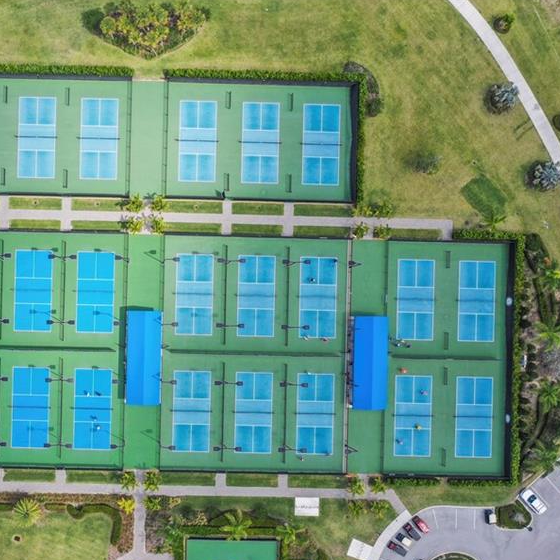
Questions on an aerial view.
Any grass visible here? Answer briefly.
Yes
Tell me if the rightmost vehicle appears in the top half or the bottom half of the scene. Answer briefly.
bottom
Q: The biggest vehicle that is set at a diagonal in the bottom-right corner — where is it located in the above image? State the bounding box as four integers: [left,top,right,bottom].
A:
[518,488,547,515]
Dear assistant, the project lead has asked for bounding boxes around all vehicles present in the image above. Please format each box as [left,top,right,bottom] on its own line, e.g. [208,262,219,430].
[403,527,421,543]
[481,509,495,523]
[518,488,547,515]
[396,534,411,547]
[388,541,406,556]
[412,519,429,535]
